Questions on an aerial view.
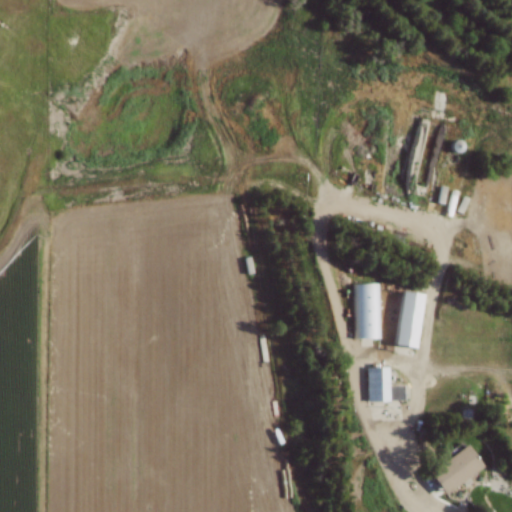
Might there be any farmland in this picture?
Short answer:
Yes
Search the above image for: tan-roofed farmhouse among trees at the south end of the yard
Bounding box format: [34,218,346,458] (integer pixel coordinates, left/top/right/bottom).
[437,448,486,496]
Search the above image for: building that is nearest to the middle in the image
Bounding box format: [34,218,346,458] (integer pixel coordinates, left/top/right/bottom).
[355,284,382,340]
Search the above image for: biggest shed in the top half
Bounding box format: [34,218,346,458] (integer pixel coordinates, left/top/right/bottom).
[408,118,430,196]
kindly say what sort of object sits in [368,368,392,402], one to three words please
shed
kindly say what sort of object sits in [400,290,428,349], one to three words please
barn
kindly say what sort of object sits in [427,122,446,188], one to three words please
shed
